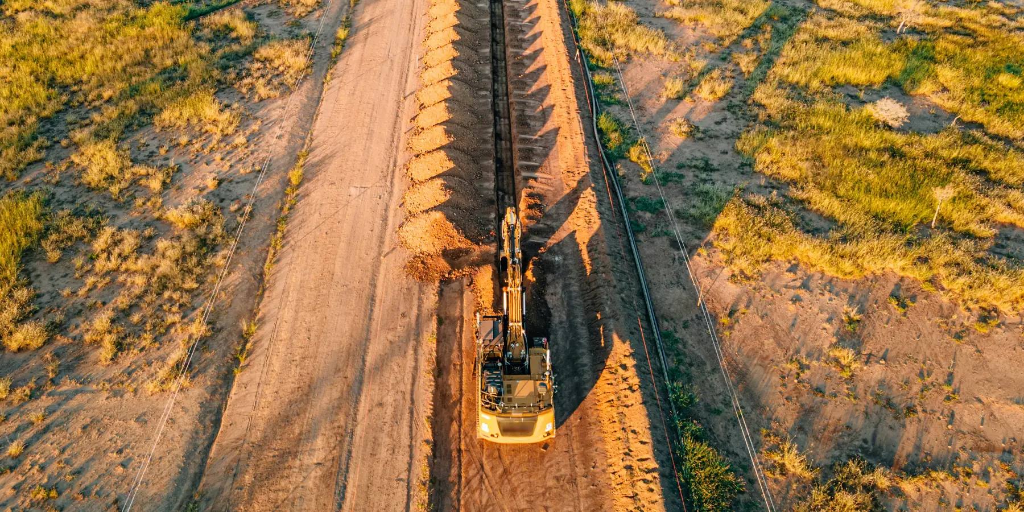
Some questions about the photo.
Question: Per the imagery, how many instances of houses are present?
0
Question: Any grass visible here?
Yes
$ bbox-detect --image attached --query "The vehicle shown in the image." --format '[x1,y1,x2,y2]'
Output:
[473,204,561,445]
